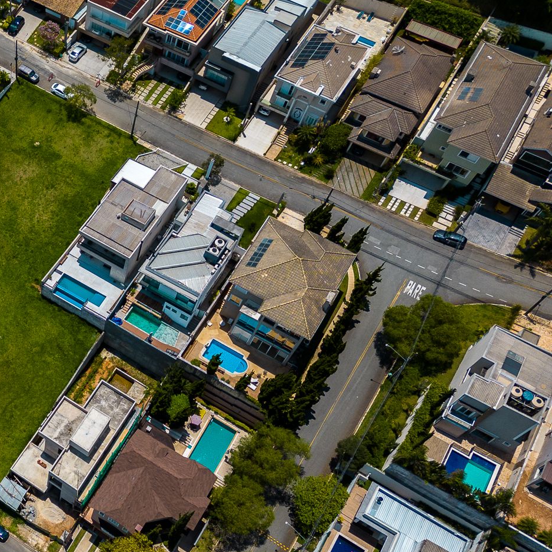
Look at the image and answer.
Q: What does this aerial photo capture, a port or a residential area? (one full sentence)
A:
It's a residential area.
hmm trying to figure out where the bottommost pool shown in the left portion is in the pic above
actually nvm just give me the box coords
[184,414,240,476]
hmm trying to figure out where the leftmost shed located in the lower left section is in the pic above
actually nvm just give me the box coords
[0,475,25,512]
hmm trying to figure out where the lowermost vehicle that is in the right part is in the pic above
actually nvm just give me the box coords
[436,229,467,246]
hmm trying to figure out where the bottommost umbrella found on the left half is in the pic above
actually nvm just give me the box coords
[187,414,203,431]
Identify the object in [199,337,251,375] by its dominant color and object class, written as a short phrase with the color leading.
blue swimming pool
